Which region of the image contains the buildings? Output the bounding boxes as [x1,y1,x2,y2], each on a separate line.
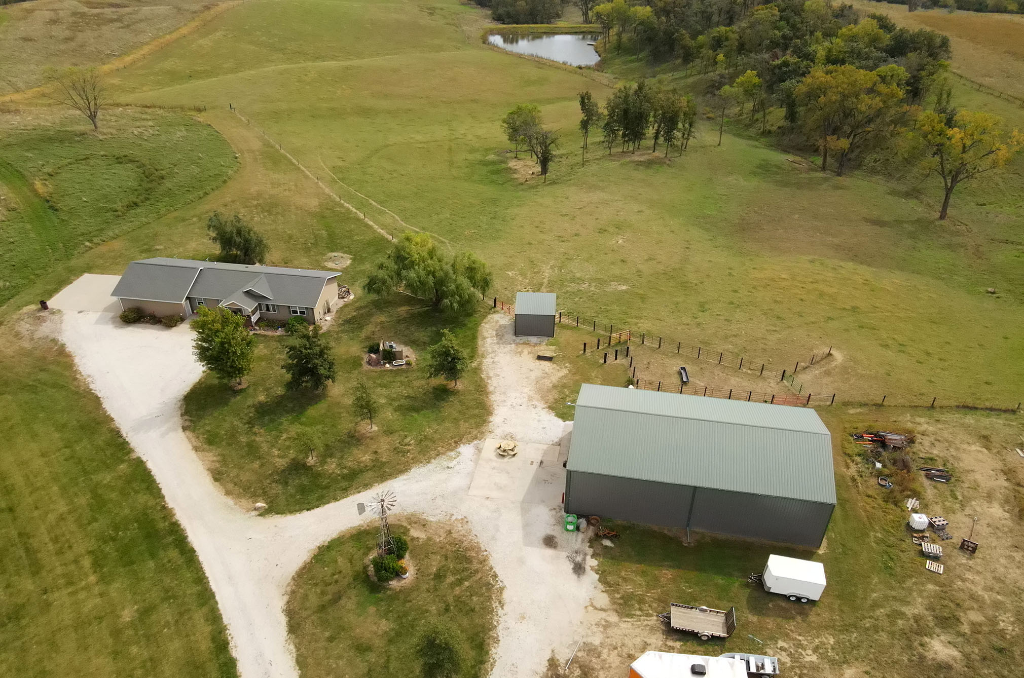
[563,383,836,548]
[111,257,343,328]
[515,291,556,337]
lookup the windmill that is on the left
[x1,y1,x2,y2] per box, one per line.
[352,495,397,560]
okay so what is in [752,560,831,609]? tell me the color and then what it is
white trailer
